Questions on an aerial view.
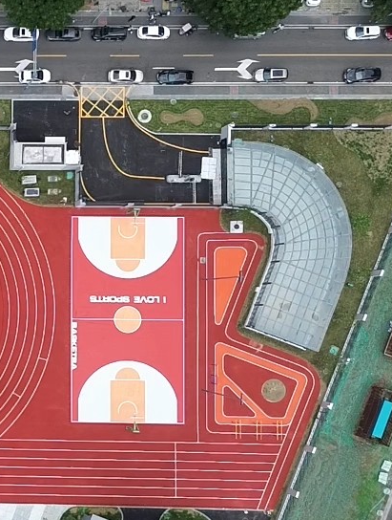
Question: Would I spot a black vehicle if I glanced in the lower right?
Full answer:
No, there's no black vehicle to be seen in the lower right.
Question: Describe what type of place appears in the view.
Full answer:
What you see here is a sports ground.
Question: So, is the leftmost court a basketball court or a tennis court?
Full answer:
It looks like the leftmost court is a basketball court.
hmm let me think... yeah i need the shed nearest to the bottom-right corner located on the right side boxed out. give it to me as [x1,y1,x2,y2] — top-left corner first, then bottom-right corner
[353,384,392,446]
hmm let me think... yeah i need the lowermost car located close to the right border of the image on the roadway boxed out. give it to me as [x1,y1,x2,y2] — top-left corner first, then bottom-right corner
[342,67,380,85]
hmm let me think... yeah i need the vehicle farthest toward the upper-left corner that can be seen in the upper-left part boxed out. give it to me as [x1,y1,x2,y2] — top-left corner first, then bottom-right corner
[0,26,37,44]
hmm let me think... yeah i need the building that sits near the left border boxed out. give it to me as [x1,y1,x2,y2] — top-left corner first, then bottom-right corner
[8,123,83,205]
